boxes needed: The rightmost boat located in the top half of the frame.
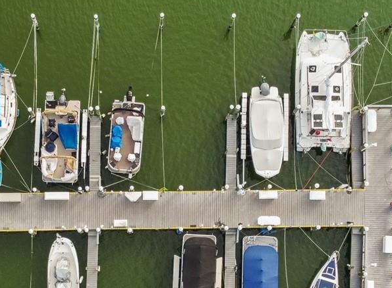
[292,29,369,153]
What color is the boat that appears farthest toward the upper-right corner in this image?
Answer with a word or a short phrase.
white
